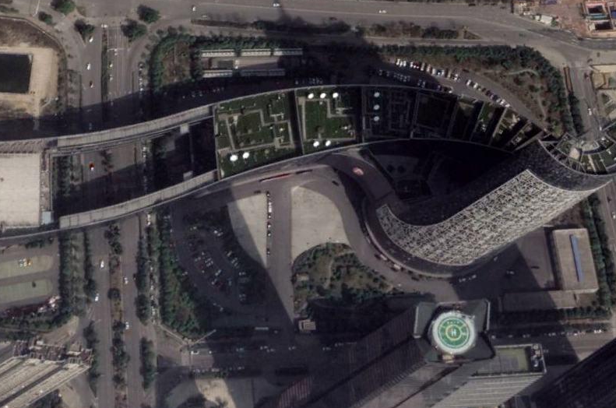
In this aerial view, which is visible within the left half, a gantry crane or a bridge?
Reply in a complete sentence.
It is a bridge that can be seen within the left half.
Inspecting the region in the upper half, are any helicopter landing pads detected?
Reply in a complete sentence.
No, no helicopter landing pad is visible in the upper half.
